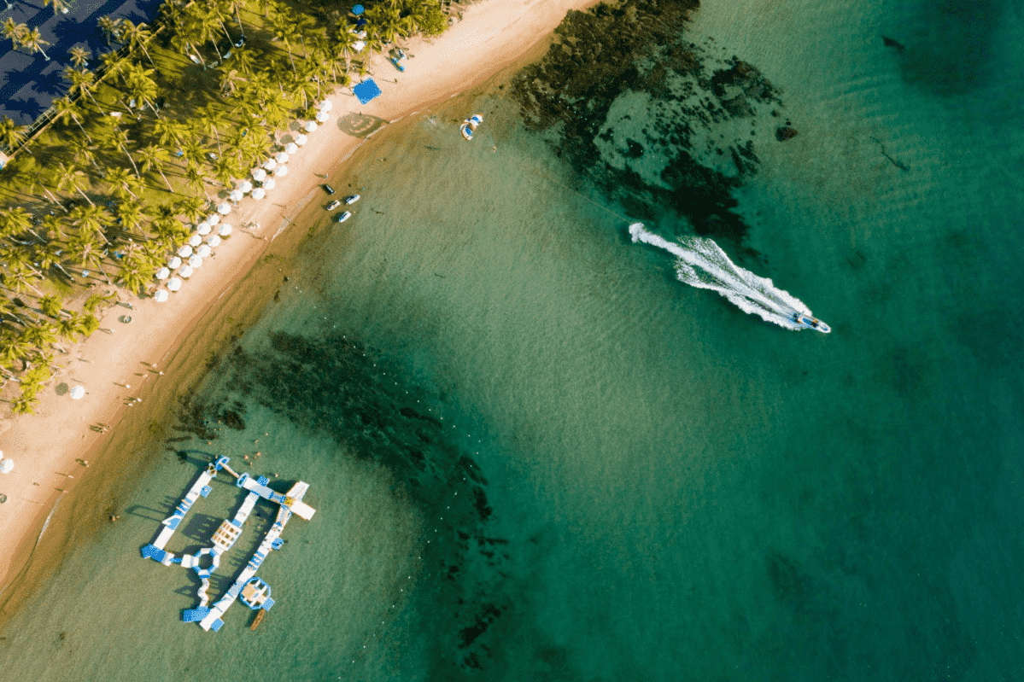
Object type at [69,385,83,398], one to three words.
umbrella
